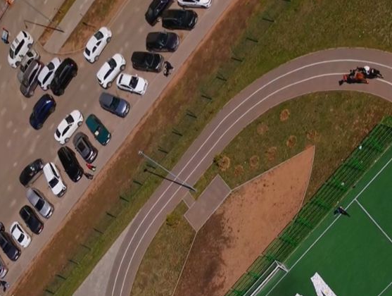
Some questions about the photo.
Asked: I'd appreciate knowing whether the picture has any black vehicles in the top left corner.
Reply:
Yes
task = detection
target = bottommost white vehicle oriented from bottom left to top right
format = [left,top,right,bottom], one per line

[55,111,84,146]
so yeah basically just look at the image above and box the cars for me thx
[8,31,34,69]
[86,114,110,146]
[28,92,56,132]
[100,92,129,117]
[0,231,20,261]
[129,51,164,74]
[55,111,84,146]
[17,48,42,84]
[21,58,44,98]
[28,188,53,219]
[37,56,63,91]
[86,28,112,65]
[50,58,78,98]
[0,253,10,281]
[177,0,211,11]
[146,31,178,53]
[144,0,177,28]
[70,130,98,165]
[117,74,149,96]
[161,7,198,32]
[41,162,67,197]
[20,205,43,234]
[9,219,32,250]
[56,146,84,183]
[98,53,126,90]
[15,155,45,190]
